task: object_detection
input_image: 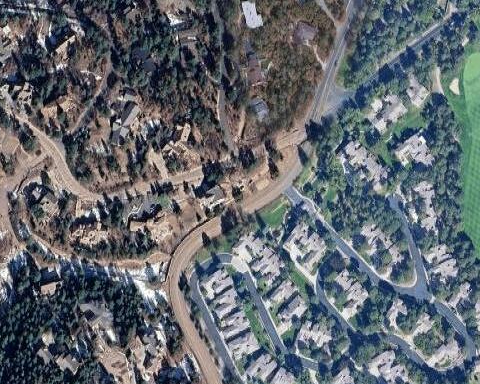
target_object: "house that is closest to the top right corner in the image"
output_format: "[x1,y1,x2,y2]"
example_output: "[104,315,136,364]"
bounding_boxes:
[403,79,434,106]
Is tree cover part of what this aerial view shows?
Yes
